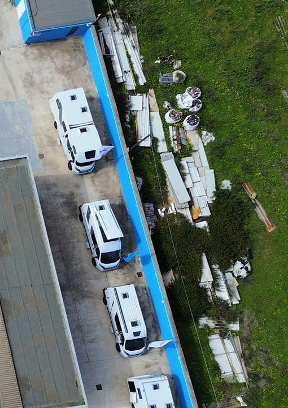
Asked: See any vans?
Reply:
Yes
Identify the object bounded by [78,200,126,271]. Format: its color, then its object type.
white van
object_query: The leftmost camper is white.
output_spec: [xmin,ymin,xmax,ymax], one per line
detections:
[50,88,100,172]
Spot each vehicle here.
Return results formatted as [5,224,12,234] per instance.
[78,200,126,271]
[50,88,100,172]
[100,284,151,357]
[127,374,177,408]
